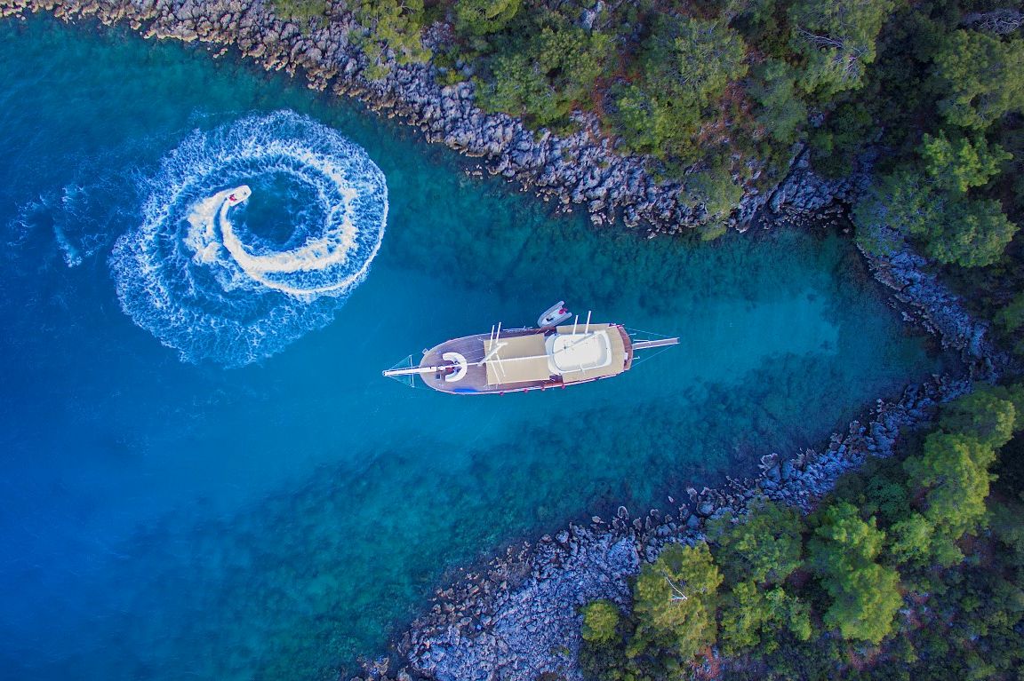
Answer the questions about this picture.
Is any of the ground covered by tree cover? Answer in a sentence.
Yes, tree cover shows up in the scene.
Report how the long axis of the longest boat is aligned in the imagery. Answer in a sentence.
The longest boat has been laid out from left to right relative to the frame.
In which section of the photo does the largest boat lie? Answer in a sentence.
The largest boat appears toward the center of the photo.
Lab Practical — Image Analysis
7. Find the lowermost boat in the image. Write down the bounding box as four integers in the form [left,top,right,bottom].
[383,314,683,393]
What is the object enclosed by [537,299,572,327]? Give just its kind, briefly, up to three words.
boat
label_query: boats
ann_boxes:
[383,314,683,393]
[223,182,251,204]
[537,299,572,327]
